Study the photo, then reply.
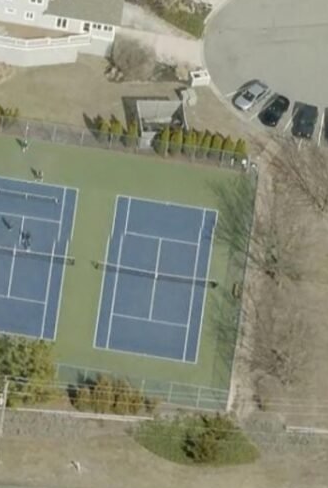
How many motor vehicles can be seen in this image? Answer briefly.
3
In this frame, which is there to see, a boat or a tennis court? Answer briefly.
tennis court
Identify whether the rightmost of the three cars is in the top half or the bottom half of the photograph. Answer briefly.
top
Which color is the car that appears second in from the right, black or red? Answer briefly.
black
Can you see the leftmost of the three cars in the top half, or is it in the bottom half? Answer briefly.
top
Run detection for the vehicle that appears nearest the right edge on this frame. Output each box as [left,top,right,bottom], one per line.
[294,102,319,140]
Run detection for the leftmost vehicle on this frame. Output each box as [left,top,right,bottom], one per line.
[235,84,271,112]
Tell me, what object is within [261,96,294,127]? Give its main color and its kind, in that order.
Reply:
black car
